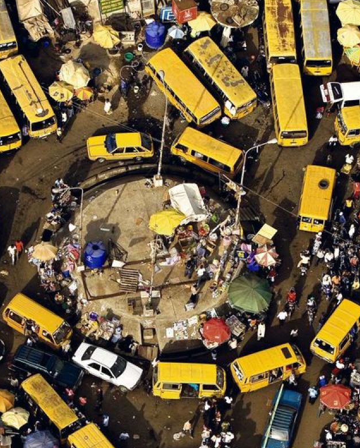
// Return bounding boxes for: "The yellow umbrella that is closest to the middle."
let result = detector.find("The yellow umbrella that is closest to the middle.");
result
[149,211,184,242]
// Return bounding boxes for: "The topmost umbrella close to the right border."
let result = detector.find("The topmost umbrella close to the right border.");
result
[335,0,360,26]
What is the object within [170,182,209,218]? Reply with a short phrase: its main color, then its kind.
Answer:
white tent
